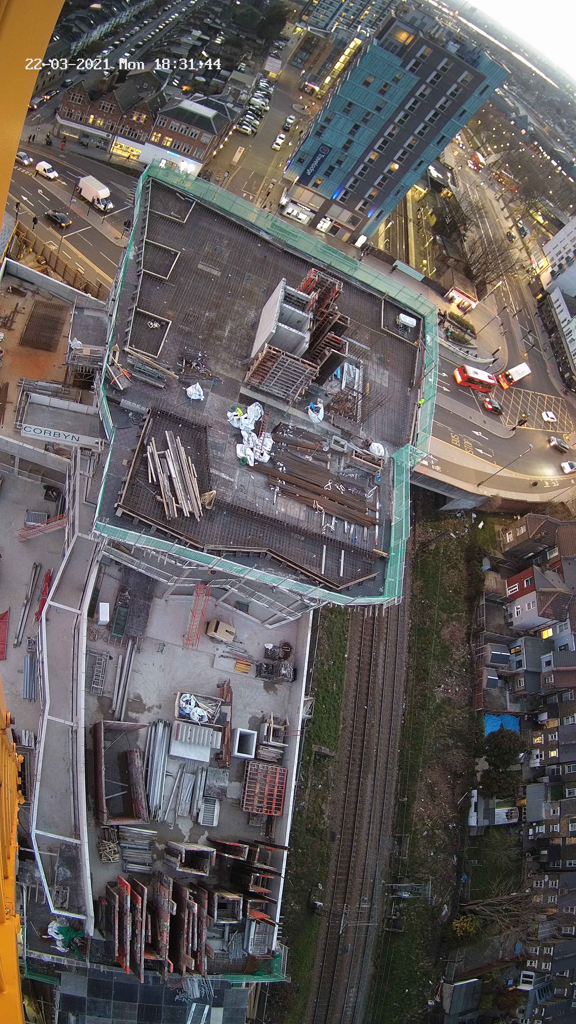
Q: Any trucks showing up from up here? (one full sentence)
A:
Yes, the picture does show a truck.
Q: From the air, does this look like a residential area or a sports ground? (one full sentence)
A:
The picture captures a residential area.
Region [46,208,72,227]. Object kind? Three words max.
car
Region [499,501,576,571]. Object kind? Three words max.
house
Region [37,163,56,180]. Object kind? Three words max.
vehicle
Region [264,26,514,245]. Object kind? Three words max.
building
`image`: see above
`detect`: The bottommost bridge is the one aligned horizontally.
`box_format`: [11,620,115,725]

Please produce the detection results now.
[414,469,576,514]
